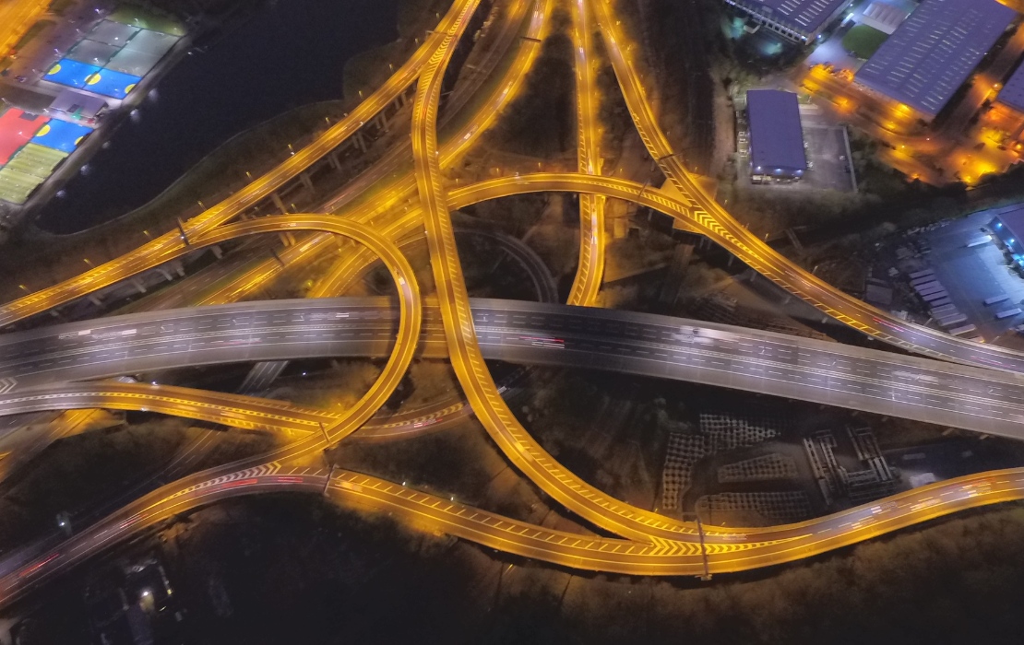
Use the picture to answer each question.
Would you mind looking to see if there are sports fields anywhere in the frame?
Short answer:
Yes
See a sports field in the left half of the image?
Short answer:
Yes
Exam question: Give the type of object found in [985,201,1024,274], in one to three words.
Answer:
building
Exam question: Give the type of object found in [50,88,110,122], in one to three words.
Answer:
building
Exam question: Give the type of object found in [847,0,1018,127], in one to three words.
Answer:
warehouse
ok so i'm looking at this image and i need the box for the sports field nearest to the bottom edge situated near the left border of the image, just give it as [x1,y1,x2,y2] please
[0,140,68,203]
